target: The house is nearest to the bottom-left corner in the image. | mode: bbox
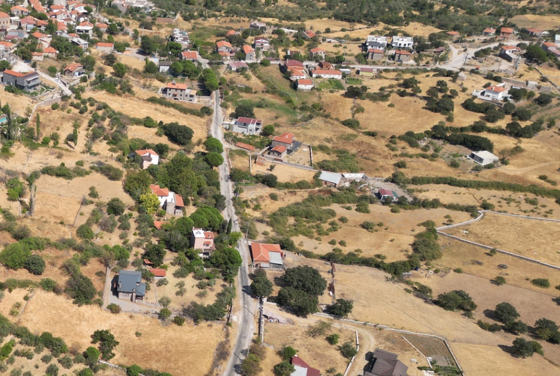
[116,269,156,301]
